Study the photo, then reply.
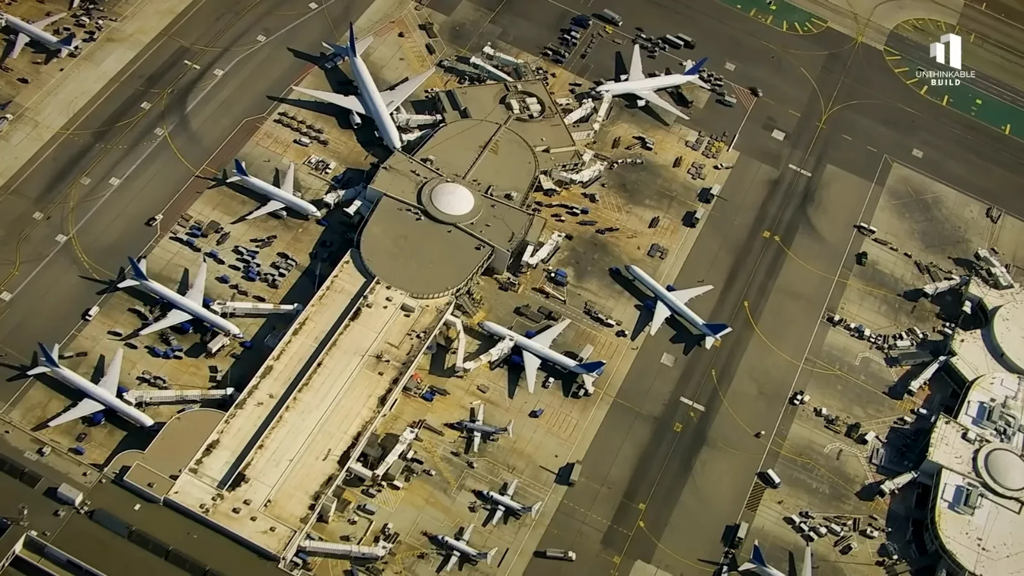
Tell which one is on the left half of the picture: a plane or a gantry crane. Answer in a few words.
plane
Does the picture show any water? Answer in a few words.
No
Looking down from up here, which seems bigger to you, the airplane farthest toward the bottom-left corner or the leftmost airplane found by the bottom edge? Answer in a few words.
the airplane farthest toward the bottom-left corner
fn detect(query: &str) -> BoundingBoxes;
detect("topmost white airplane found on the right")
[595,43,717,120]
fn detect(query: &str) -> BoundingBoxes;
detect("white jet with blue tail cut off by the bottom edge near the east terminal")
[748,533,825,576]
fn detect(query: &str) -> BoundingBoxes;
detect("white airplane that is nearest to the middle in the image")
[477,316,603,391]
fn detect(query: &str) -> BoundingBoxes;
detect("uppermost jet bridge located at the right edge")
[968,244,1005,274]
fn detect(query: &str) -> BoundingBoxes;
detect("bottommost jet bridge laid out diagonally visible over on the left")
[346,424,419,485]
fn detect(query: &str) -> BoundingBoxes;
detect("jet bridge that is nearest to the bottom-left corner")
[118,386,237,410]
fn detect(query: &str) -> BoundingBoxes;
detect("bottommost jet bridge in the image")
[298,539,393,575]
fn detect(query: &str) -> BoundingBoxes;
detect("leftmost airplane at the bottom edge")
[438,523,500,573]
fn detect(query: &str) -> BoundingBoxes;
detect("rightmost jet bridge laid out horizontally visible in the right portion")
[914,274,970,301]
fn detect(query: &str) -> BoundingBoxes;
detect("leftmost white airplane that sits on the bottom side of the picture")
[30,345,155,428]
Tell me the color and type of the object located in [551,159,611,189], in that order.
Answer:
white jet bridge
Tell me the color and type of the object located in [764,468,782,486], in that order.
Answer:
white vehicle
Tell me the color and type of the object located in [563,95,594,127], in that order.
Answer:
white jet bridge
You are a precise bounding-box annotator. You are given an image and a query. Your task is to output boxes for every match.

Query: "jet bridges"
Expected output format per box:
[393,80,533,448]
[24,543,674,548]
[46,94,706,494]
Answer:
[914,274,970,301]
[208,299,303,322]
[400,126,435,150]
[447,316,519,375]
[118,386,237,410]
[968,244,1005,274]
[464,54,518,83]
[346,424,419,485]
[563,95,594,127]
[394,114,442,132]
[322,185,368,210]
[0,16,11,47]
[518,229,569,271]
[592,90,615,140]
[436,58,489,85]
[551,159,611,189]
[896,356,947,398]
[477,44,527,68]
[338,198,366,222]
[298,539,393,575]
